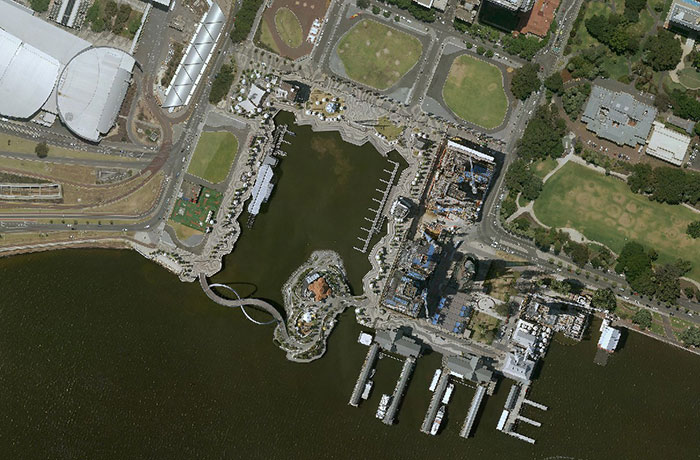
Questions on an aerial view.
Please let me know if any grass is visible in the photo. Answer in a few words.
Yes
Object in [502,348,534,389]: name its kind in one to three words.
house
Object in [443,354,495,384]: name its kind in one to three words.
building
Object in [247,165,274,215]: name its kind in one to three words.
building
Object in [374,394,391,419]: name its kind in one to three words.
boat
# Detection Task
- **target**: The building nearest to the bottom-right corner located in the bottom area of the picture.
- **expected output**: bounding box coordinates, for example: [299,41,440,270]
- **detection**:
[597,319,623,353]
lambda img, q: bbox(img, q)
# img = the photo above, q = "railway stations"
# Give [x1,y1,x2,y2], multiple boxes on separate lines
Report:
[163,0,225,114]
